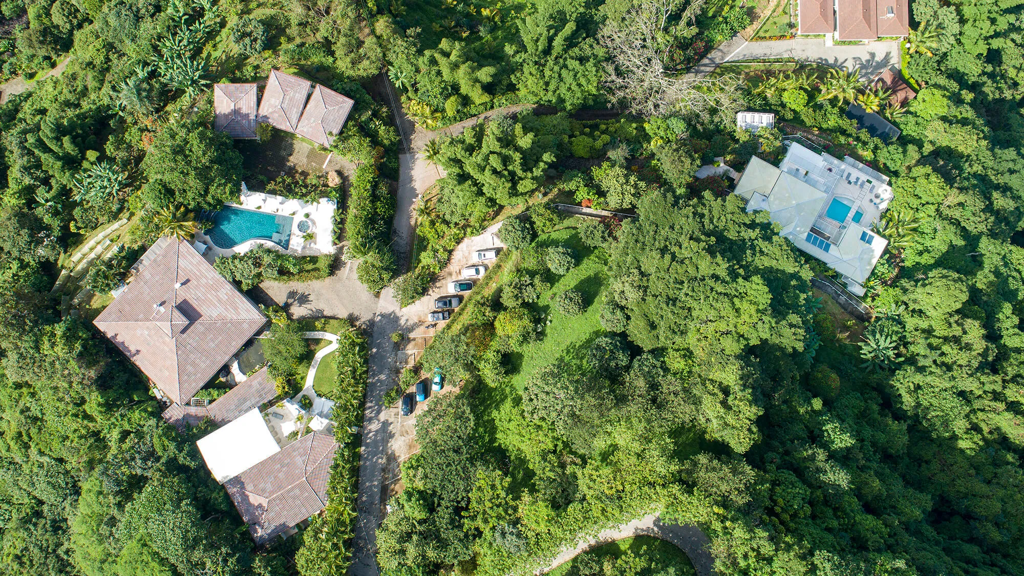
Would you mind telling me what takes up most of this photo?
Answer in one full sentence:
The largest share of the image is taken up by trees.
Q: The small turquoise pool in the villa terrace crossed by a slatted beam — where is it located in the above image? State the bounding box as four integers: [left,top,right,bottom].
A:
[822,193,867,227]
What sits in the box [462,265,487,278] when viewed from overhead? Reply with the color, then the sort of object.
white vehicle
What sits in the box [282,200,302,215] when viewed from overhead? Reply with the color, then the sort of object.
white umbrella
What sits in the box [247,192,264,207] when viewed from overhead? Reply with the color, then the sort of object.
white umbrella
